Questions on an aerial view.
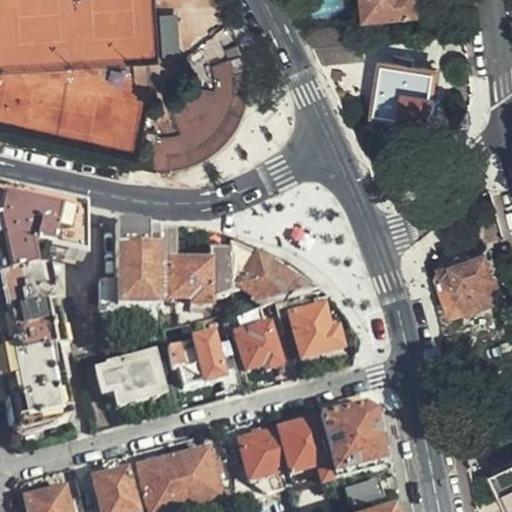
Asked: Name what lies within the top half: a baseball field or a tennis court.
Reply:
tennis court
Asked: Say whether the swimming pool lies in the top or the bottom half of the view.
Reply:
top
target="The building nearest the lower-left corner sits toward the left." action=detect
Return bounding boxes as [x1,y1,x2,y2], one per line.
[22,483,78,512]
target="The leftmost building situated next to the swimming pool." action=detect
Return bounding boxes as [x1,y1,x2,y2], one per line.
[310,28,366,68]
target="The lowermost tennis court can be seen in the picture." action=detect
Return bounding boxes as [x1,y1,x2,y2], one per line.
[0,68,143,153]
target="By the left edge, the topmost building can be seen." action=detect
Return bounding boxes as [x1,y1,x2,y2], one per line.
[7,189,92,266]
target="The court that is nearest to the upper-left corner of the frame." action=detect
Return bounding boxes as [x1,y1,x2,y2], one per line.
[0,0,76,70]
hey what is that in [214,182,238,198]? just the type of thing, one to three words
car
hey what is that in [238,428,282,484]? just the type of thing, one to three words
house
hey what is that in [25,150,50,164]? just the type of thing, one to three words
car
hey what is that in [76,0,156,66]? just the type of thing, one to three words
tennis court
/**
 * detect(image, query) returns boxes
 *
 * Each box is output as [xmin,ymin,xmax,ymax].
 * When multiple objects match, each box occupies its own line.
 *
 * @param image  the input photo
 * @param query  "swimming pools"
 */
[312,0,346,20]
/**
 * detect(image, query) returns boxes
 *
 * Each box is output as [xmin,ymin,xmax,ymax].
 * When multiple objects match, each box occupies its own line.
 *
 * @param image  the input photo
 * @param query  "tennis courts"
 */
[0,0,76,70]
[76,0,156,66]
[0,68,143,153]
